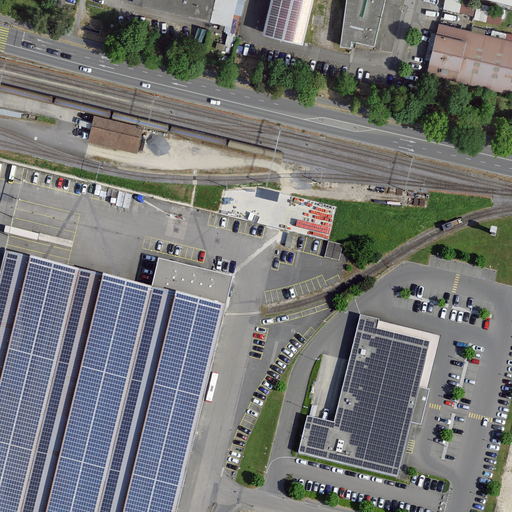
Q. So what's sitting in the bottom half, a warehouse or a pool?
warehouse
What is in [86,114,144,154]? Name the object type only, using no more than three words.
shed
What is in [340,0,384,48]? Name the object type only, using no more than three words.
building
